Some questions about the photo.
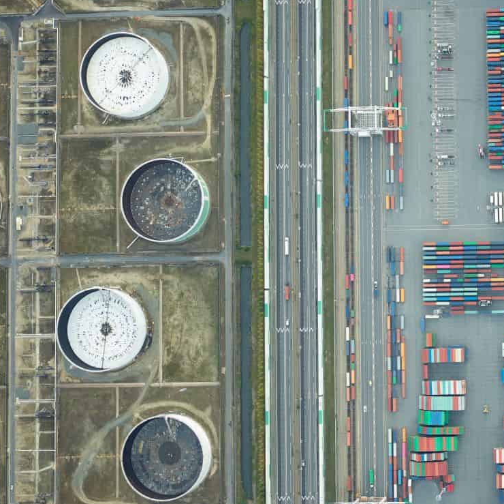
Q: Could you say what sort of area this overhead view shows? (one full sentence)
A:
What you see here is an industrial area.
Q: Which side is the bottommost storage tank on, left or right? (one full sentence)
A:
You can find the bottommost storage tank on the left side of the picture.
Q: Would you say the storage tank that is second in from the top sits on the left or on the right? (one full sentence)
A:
The storage tank that is second in from the top appears in the left half of the scene.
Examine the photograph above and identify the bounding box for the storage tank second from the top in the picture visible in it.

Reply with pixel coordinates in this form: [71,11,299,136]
[121,158,210,243]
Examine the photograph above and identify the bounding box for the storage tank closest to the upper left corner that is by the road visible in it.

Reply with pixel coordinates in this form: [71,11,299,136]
[79,33,171,126]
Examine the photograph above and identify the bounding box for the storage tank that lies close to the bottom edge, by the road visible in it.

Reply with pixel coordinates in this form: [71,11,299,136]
[121,406,214,502]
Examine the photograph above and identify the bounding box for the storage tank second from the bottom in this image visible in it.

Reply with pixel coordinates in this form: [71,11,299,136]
[56,275,149,371]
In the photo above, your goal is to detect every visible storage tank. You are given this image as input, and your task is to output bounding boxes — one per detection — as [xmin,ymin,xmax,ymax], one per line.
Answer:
[121,158,210,243]
[79,33,171,126]
[121,406,214,502]
[56,275,149,371]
